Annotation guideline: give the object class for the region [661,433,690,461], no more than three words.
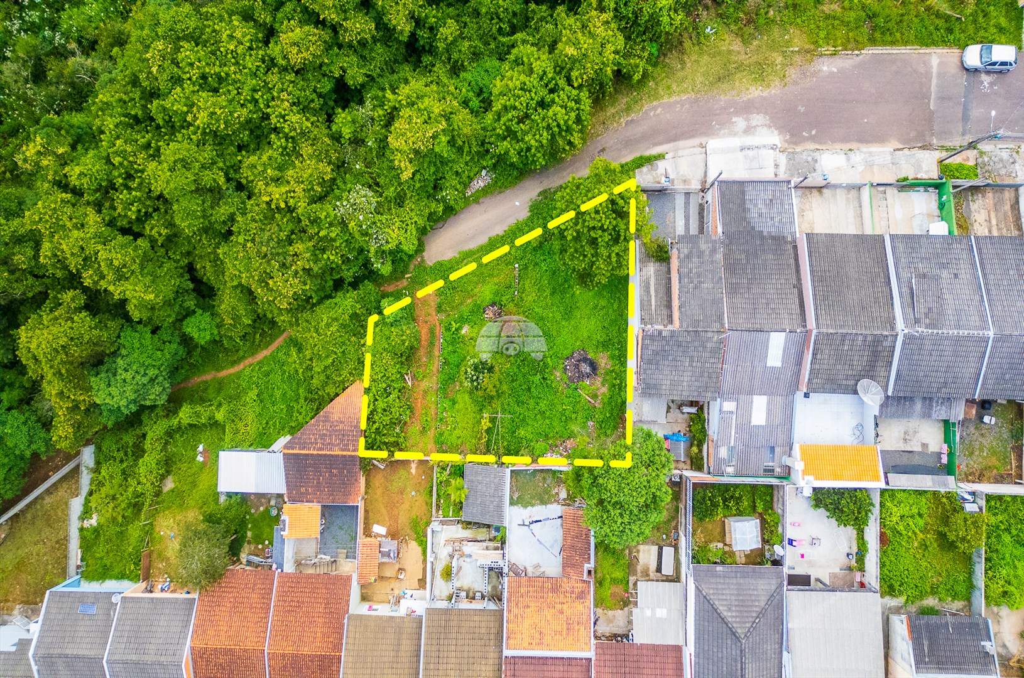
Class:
shed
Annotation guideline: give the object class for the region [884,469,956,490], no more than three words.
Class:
shed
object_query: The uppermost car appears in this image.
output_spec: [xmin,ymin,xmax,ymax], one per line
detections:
[959,42,1020,71]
